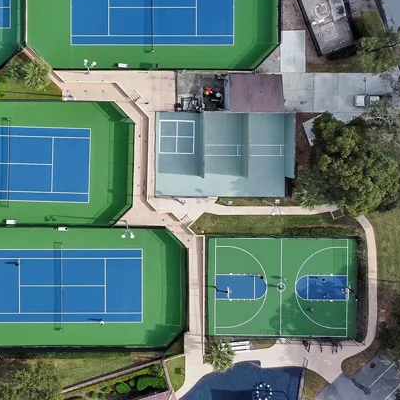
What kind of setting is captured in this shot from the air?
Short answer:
sports ground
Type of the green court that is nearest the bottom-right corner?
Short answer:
basketball court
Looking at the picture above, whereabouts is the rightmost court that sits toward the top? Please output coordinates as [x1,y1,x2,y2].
[155,109,297,198]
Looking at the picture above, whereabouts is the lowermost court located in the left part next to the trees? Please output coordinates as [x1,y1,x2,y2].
[0,226,186,346]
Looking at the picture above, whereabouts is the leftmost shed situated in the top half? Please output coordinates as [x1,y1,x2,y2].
[223,73,285,112]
